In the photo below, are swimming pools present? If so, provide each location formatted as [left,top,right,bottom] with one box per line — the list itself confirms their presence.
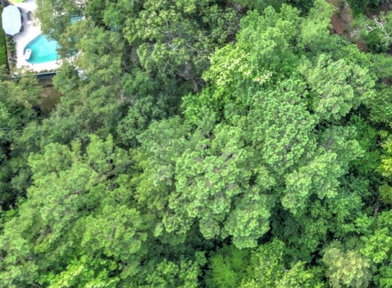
[21,24,85,65]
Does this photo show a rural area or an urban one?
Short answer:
rural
